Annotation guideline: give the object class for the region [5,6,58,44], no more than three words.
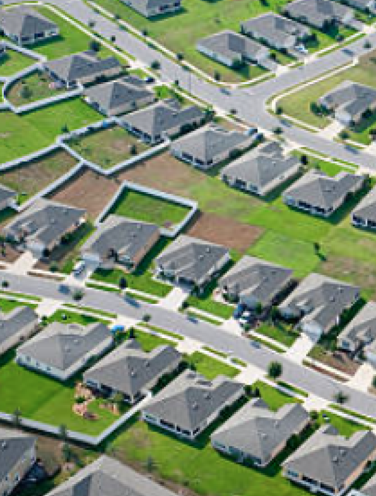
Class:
house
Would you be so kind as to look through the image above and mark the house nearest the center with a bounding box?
[144,234,229,294]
